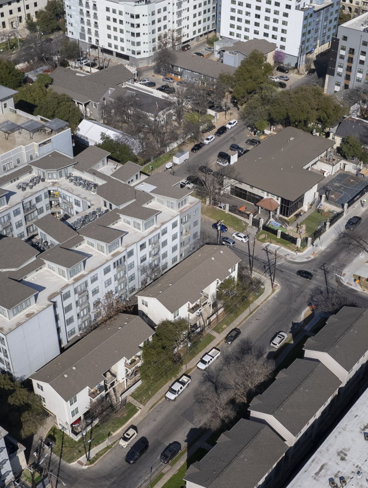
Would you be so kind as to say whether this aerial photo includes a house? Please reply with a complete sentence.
Yes, the photo shows a house.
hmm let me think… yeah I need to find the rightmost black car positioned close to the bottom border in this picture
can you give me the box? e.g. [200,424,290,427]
[157,440,186,467]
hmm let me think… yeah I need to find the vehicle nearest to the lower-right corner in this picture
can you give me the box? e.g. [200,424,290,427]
[269,332,290,350]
